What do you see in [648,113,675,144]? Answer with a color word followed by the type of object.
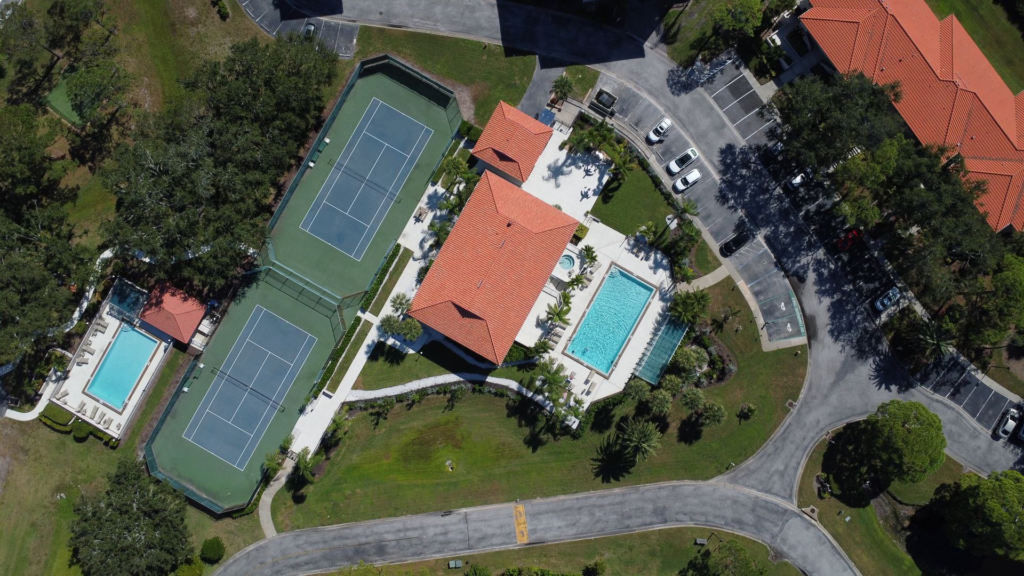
white car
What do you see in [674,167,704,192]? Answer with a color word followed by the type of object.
white car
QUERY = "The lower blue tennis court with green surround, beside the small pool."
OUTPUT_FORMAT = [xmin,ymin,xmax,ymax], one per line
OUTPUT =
[146,260,365,507]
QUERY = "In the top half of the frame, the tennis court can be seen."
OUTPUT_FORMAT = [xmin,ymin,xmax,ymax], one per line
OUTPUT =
[269,61,460,297]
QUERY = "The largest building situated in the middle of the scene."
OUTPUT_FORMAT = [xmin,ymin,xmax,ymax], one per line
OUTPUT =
[407,170,579,366]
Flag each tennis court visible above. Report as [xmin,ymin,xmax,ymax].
[269,61,460,297]
[146,260,365,507]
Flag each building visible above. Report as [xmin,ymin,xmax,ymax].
[472,100,553,183]
[407,170,579,366]
[139,286,209,344]
[793,0,1024,256]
